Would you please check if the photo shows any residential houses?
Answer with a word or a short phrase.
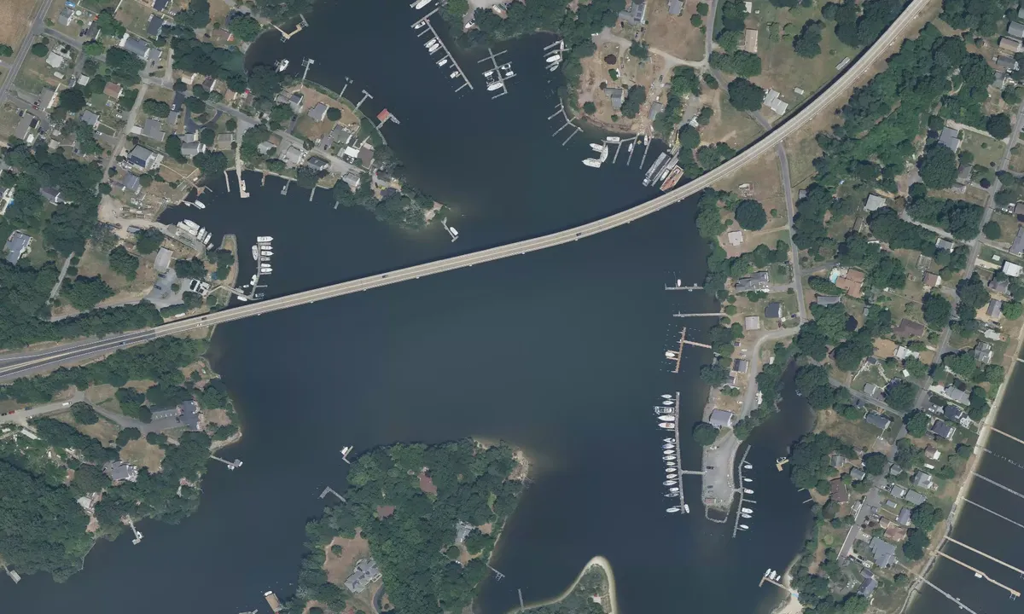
Yes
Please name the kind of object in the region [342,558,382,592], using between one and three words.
house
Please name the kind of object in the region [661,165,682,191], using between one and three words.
ship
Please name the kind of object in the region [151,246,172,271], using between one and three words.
shed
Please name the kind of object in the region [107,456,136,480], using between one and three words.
house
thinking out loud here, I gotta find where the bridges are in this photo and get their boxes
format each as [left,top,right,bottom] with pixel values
[158,0,929,338]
